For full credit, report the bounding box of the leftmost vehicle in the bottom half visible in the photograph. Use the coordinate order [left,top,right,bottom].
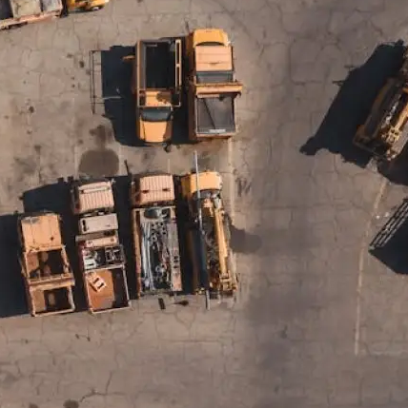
[14,213,77,315]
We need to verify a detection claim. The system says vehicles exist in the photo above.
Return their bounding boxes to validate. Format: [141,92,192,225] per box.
[127,175,181,295]
[179,172,244,298]
[14,213,77,315]
[128,39,184,145]
[185,29,241,139]
[351,33,408,163]
[68,179,130,312]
